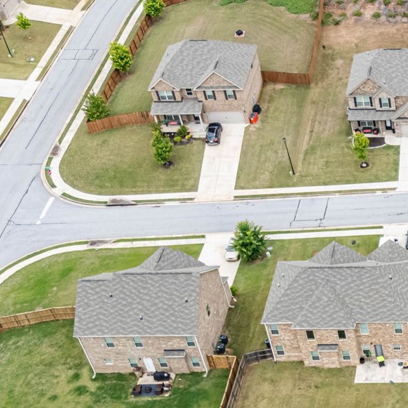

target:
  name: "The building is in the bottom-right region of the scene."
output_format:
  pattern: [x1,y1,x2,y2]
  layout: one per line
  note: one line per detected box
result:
[261,238,408,366]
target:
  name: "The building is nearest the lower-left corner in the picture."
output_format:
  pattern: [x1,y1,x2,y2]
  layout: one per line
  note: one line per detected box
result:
[72,245,240,376]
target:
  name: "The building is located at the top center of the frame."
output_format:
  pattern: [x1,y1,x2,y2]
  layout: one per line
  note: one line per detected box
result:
[148,42,267,131]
